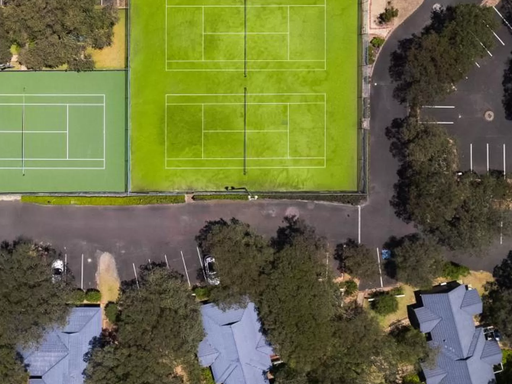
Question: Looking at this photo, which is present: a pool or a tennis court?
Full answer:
The image shows a tennis court.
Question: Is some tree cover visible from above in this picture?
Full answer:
Yes, the picture does contain tree cover.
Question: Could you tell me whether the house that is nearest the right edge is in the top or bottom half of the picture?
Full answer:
The house that is nearest the right edge sits in the bottom half of the picture.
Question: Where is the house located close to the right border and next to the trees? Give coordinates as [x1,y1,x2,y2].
[411,281,502,384]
